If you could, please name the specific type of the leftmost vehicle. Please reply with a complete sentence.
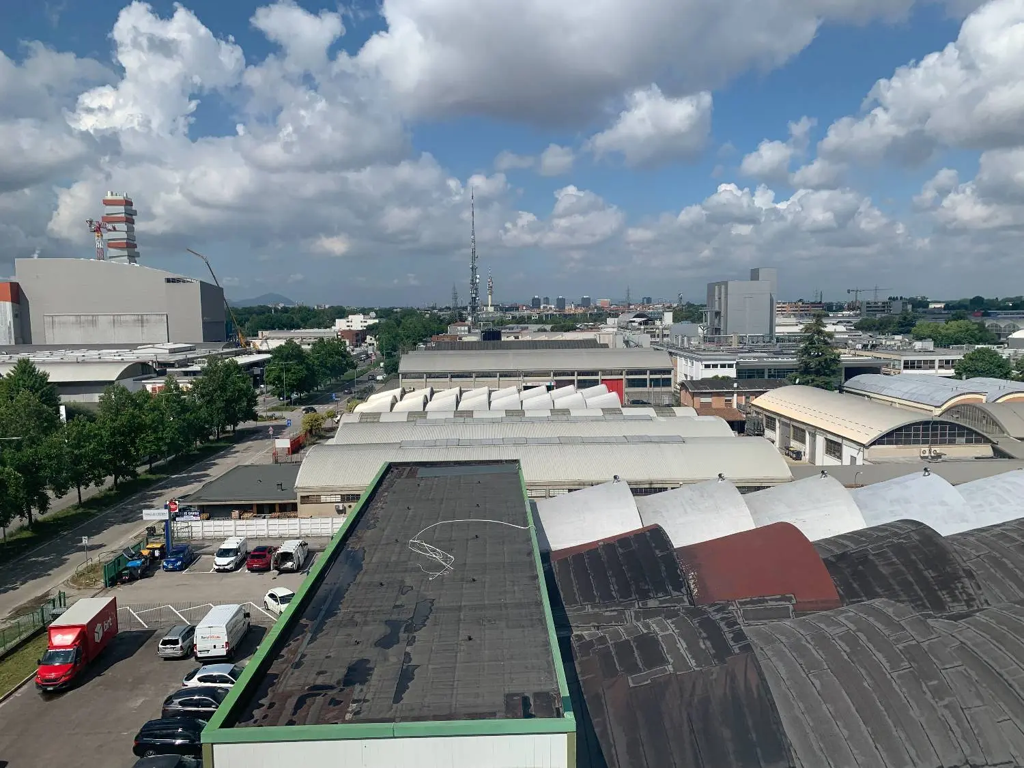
The leftmost vehicle is a truck.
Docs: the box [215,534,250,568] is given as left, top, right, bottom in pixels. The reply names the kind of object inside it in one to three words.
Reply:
van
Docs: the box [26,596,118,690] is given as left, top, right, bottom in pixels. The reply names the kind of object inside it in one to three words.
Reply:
truck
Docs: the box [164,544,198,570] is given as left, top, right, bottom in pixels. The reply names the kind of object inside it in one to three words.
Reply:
car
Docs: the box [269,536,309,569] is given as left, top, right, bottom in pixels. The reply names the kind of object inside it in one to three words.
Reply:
van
